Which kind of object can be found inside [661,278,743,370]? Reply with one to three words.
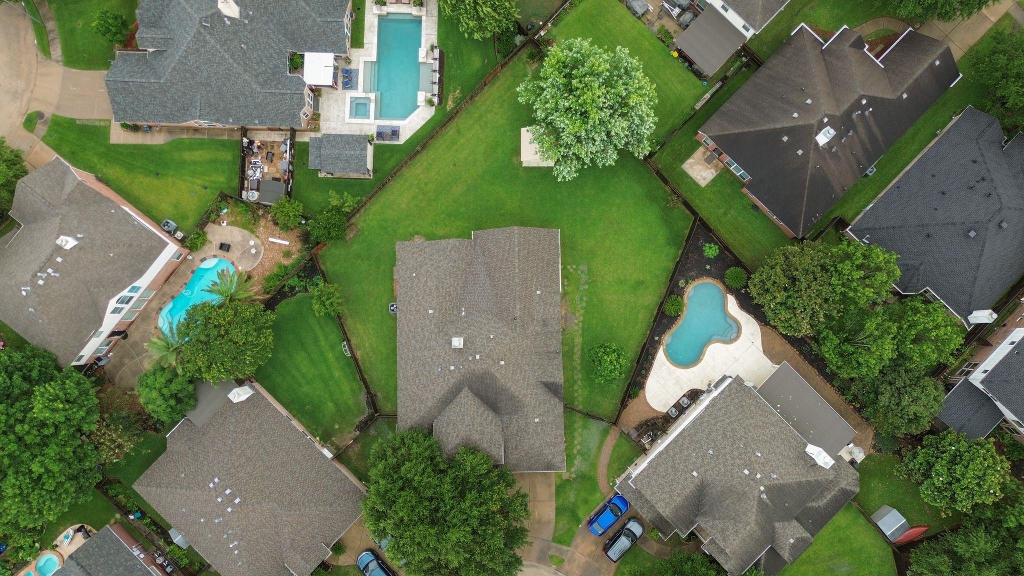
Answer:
swimming pool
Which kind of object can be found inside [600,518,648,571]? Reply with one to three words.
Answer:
car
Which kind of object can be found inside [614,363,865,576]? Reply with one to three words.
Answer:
house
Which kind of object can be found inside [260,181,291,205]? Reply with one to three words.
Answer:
shed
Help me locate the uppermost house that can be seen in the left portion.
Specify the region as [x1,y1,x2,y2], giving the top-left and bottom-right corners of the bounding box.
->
[105,0,355,132]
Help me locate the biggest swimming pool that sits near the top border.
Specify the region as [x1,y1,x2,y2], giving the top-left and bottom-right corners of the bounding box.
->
[360,13,436,123]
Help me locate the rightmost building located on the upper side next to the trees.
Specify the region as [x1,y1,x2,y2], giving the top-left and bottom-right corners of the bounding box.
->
[835,104,1024,331]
